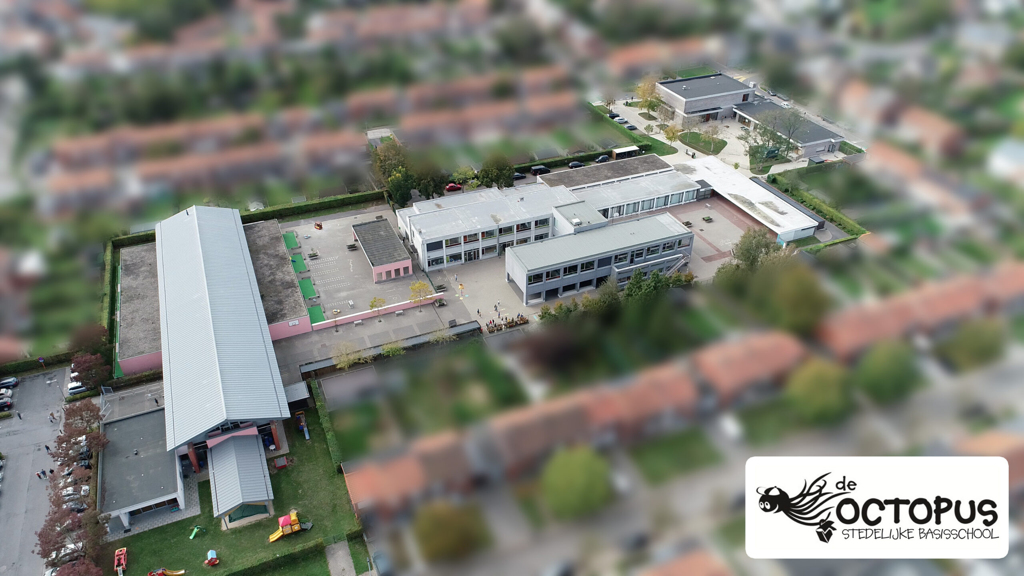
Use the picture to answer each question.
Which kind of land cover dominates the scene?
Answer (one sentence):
The scene is dominated by buildings.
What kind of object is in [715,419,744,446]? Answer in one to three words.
vehicle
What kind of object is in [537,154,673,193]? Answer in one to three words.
building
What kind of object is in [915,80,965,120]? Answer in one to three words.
house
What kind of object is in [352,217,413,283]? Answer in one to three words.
building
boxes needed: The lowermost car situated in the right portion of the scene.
[617,530,653,558]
